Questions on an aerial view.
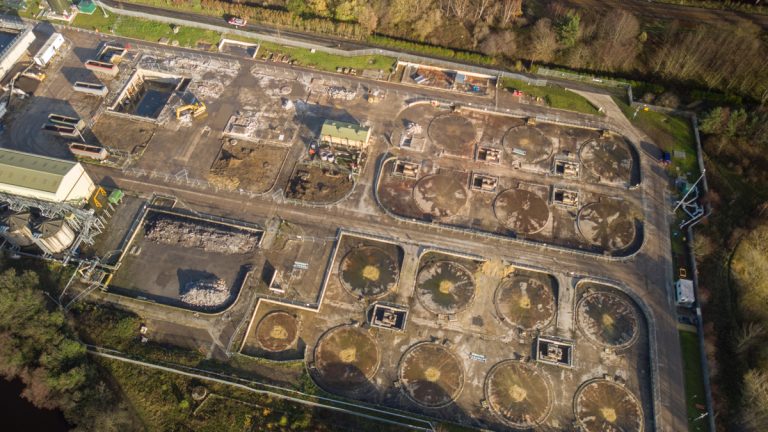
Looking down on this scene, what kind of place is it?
industrial area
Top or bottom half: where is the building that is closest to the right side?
bottom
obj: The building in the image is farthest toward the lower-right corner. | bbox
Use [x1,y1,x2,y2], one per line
[675,281,699,312]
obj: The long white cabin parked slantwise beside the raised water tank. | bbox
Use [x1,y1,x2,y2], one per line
[31,31,67,68]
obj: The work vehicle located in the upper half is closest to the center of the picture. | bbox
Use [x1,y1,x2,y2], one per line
[308,141,320,158]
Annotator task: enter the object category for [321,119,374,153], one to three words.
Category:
house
